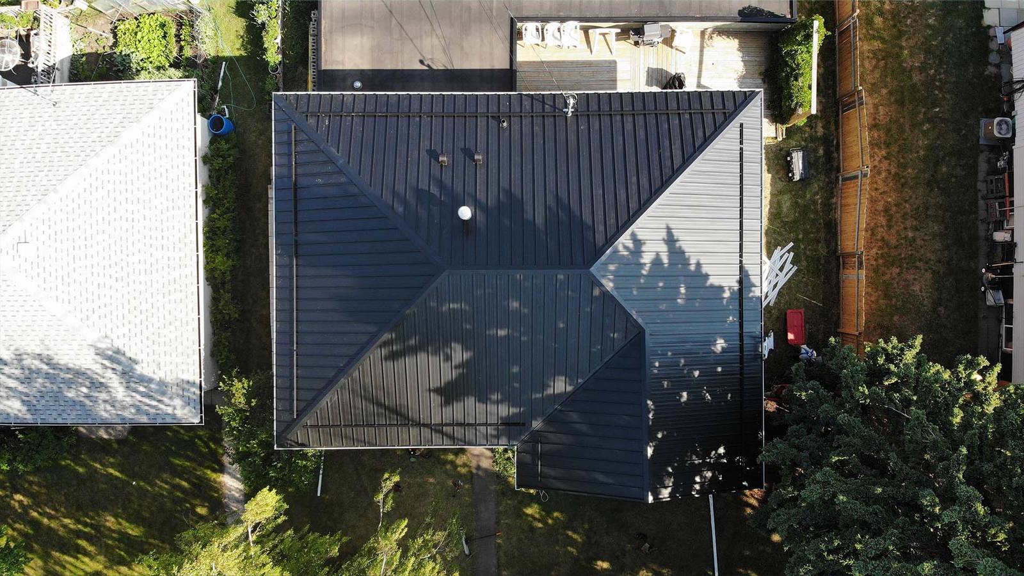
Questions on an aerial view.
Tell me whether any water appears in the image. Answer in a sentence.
No, the scene doesn't show any water.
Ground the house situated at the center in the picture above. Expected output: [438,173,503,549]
[271,88,769,504]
